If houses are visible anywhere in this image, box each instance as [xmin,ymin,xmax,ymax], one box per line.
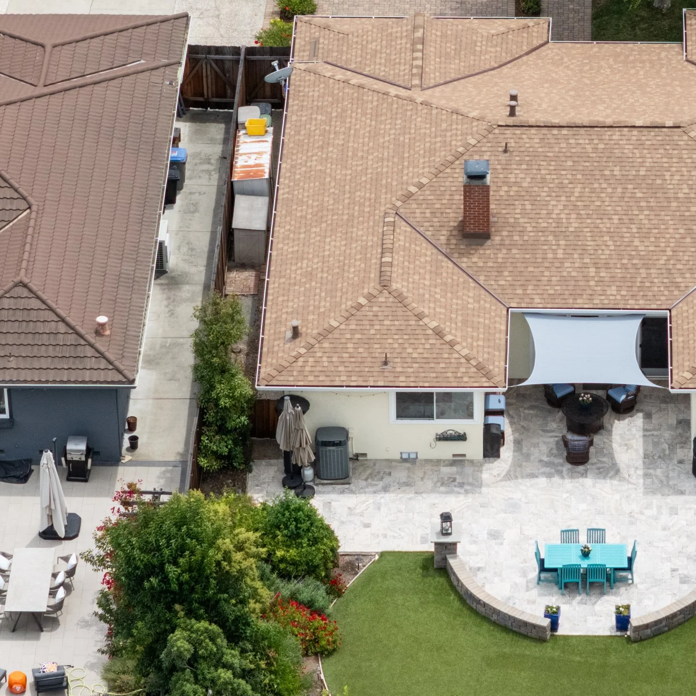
[0,9,193,462]
[252,8,696,459]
